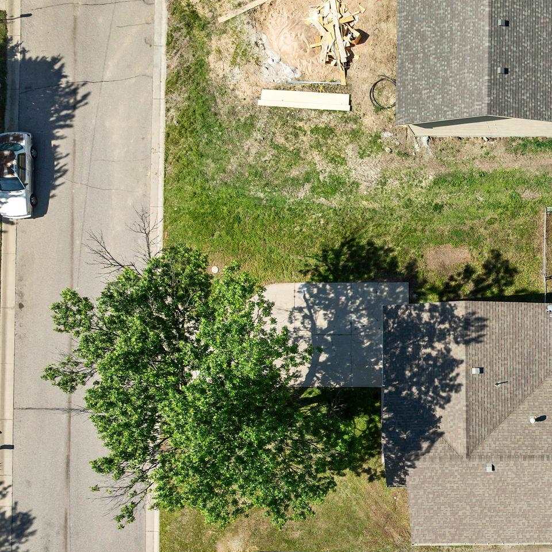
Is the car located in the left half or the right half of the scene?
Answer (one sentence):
The car is on the left side of the image.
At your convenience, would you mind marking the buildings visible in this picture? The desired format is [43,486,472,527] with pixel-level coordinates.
[397,0,552,137]
[379,301,552,546]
